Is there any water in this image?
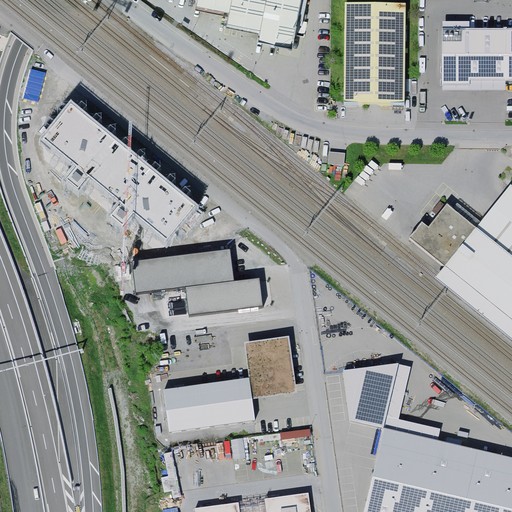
No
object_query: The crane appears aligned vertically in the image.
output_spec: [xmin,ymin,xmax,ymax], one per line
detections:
[118,121,132,294]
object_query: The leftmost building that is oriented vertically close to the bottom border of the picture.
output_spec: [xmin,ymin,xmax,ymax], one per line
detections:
[162,452,182,498]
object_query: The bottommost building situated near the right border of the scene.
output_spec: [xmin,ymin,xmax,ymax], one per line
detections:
[364,428,512,512]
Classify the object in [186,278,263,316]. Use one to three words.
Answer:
building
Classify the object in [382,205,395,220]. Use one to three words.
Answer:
vehicle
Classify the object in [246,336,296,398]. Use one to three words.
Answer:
building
